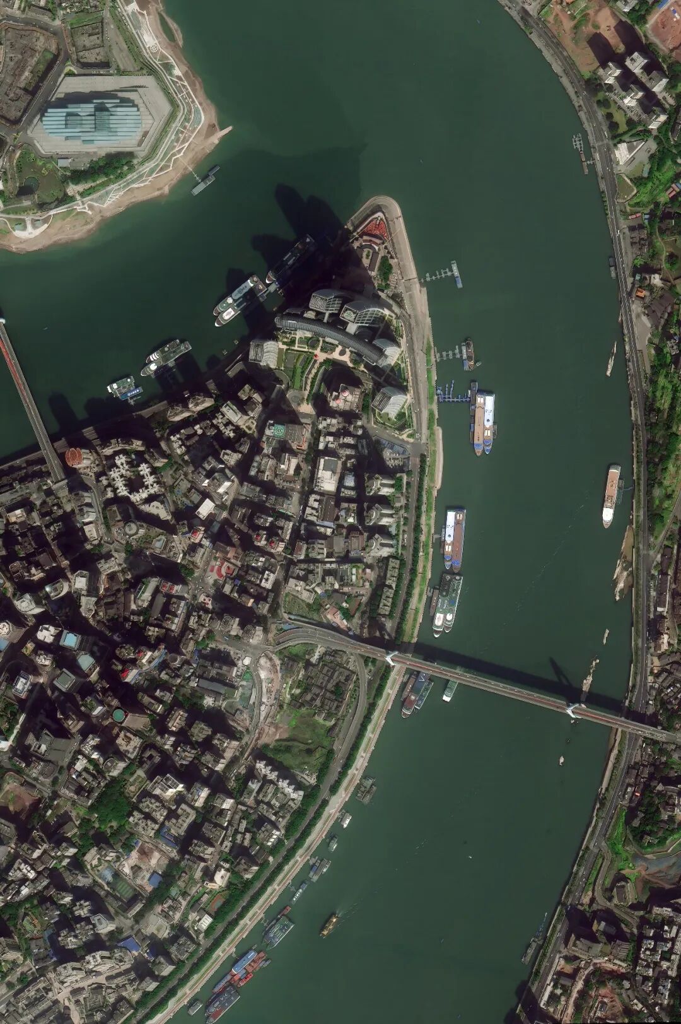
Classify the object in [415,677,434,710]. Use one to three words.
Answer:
boat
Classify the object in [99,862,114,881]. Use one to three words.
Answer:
swimming pool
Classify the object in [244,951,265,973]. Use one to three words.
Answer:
ship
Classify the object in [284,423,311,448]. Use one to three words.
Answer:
building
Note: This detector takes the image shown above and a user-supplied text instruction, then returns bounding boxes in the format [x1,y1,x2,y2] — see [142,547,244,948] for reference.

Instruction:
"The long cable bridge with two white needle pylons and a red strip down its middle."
[280,630,681,743]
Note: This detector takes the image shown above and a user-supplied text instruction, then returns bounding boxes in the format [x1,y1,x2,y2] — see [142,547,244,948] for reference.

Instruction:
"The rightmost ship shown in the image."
[603,464,622,529]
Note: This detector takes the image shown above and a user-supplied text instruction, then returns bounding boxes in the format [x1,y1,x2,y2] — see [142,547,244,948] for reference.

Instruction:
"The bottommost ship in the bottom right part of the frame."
[521,938,536,965]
